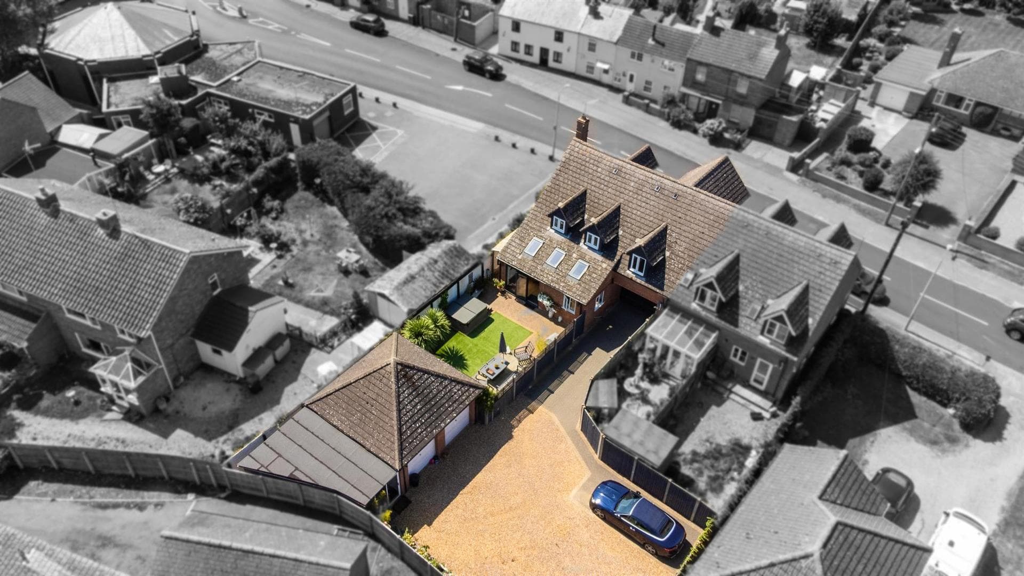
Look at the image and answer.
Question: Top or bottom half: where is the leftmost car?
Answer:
top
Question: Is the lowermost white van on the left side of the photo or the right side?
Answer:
right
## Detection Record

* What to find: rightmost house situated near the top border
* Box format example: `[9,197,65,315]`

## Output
[872,27,1024,141]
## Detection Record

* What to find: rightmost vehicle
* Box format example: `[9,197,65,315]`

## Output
[995,310,1024,340]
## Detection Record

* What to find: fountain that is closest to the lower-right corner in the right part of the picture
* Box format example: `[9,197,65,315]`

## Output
[626,373,647,395]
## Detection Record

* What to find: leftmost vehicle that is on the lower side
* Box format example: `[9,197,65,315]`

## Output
[587,480,689,558]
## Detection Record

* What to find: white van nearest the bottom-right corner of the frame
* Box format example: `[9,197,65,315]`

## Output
[922,513,999,576]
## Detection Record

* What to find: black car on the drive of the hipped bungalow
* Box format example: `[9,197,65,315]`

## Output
[921,117,977,149]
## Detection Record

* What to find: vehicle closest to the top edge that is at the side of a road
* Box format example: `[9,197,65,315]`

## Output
[350,15,389,39]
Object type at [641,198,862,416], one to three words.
house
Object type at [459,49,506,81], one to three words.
car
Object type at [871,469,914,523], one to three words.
car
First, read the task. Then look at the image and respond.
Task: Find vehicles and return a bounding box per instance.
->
[995,310,1024,340]
[459,49,506,81]
[922,513,999,576]
[871,469,914,523]
[587,480,689,558]
[921,117,977,149]
[350,15,389,39]
[847,265,890,303]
